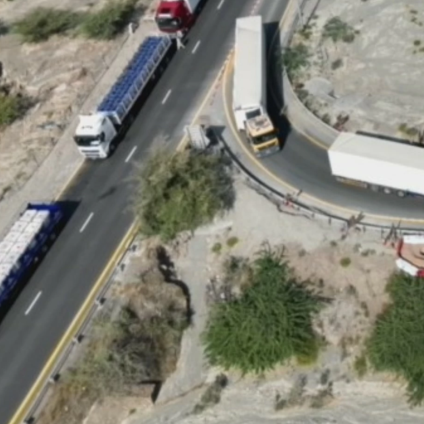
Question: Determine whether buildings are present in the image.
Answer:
No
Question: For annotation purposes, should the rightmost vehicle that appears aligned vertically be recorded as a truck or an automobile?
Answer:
truck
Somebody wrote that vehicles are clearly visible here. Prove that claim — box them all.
[150,0,203,39]
[71,35,175,158]
[0,203,64,306]
[233,15,281,159]
[330,130,424,198]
